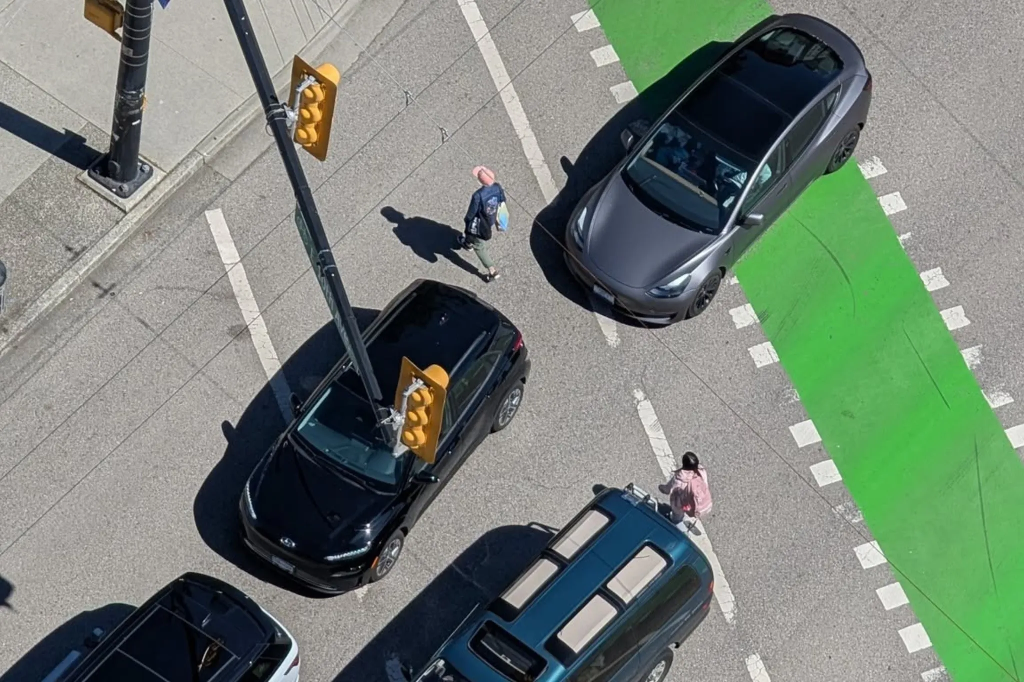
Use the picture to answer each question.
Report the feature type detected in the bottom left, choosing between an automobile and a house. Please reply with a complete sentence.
What appears in the bottom left is an automobile.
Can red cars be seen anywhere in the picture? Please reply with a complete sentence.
No, no red car is visible in the scene.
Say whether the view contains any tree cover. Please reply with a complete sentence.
No, no tree cover is visible.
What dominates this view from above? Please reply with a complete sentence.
The largest share of the image is taken up by paved ground.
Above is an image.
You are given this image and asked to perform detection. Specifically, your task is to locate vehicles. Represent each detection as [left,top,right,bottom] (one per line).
[385,476,708,682]
[232,274,537,592]
[563,11,874,323]
[63,574,303,682]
